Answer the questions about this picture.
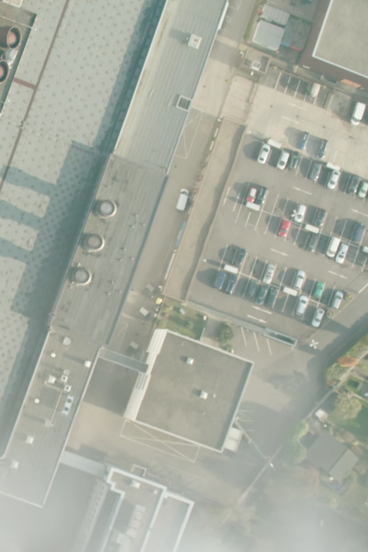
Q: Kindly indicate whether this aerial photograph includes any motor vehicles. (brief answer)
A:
Yes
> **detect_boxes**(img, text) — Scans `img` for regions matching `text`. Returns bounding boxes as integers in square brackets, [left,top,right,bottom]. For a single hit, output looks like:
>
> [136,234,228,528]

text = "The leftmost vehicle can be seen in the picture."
[174,189,189,211]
